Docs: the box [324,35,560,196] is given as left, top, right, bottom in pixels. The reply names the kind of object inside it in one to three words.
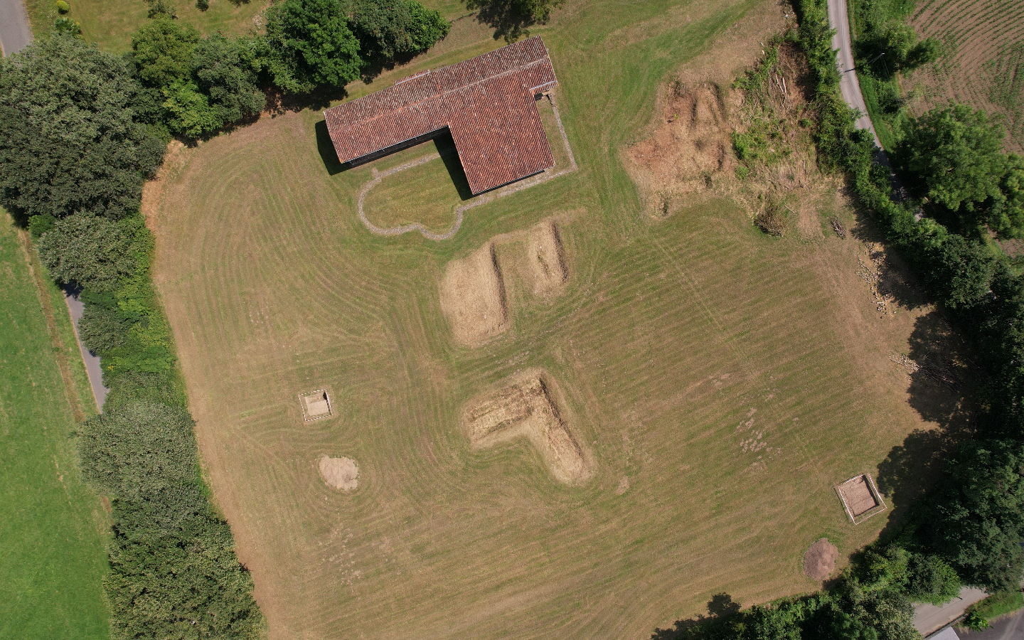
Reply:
barn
